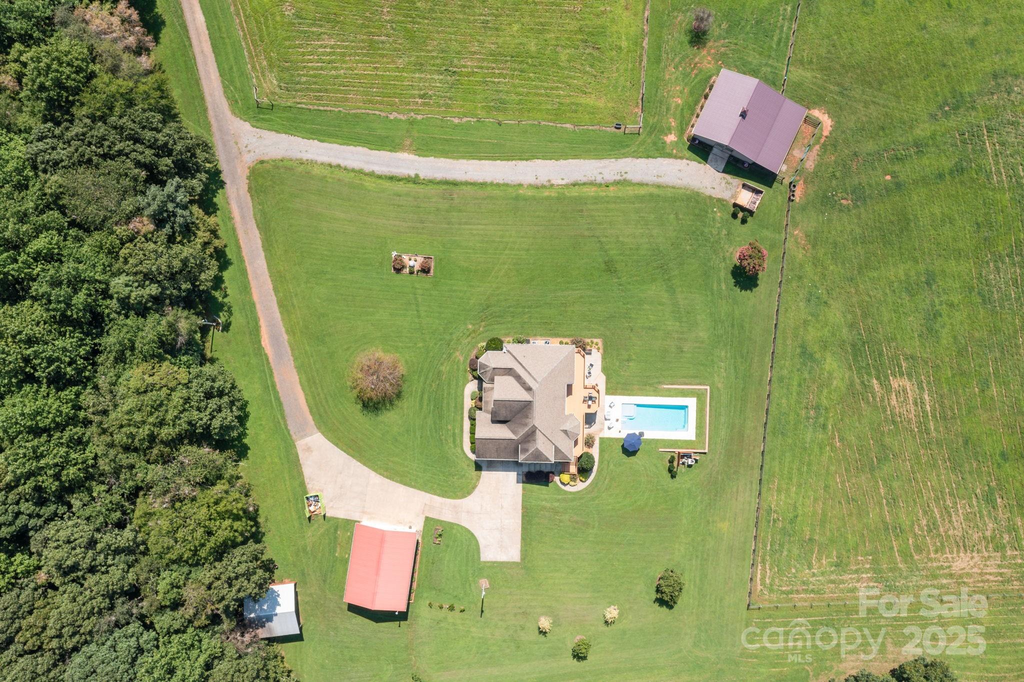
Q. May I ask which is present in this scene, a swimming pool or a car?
swimming pool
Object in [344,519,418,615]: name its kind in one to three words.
barn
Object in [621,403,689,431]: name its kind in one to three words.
swimming pool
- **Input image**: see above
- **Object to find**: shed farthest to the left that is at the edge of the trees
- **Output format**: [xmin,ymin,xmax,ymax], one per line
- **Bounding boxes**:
[244,583,304,640]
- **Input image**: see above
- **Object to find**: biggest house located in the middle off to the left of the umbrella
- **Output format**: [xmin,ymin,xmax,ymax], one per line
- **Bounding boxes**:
[475,344,581,463]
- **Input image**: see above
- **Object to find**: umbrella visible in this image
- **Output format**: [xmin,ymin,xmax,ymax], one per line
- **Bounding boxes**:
[624,431,645,451]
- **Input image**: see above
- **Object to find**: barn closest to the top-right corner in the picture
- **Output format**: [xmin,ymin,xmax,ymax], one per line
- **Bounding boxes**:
[691,69,808,175]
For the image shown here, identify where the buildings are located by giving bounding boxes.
[691,69,808,175]
[475,344,581,463]
[244,583,304,640]
[344,519,418,615]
